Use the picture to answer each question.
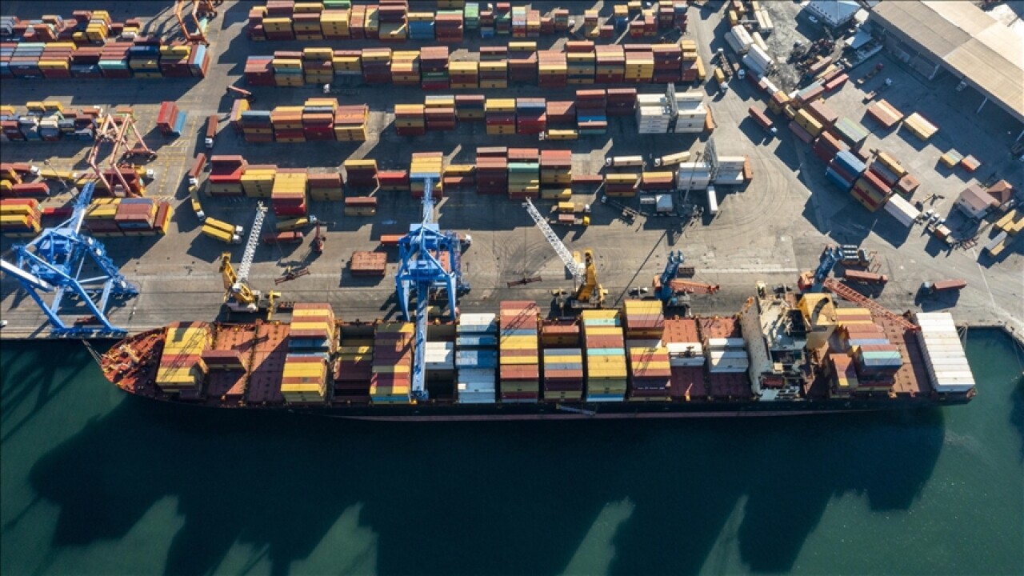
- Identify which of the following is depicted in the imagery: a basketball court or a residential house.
residential house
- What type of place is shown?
port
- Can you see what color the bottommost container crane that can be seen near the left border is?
blue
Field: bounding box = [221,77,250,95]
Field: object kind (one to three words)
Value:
work vehicle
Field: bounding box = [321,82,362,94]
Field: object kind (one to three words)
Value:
vehicle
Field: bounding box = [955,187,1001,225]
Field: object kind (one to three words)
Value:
house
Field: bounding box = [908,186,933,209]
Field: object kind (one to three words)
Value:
work vehicle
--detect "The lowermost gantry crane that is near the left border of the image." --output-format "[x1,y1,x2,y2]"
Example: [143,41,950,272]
[0,177,134,330]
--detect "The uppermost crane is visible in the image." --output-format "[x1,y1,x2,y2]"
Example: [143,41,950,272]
[173,0,224,44]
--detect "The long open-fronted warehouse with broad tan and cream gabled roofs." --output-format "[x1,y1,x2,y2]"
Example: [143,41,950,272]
[865,0,1024,127]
